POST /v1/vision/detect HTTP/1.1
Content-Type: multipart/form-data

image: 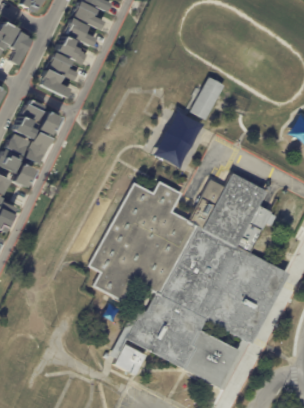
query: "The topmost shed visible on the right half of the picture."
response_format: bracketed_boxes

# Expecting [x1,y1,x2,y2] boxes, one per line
[191,77,223,118]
